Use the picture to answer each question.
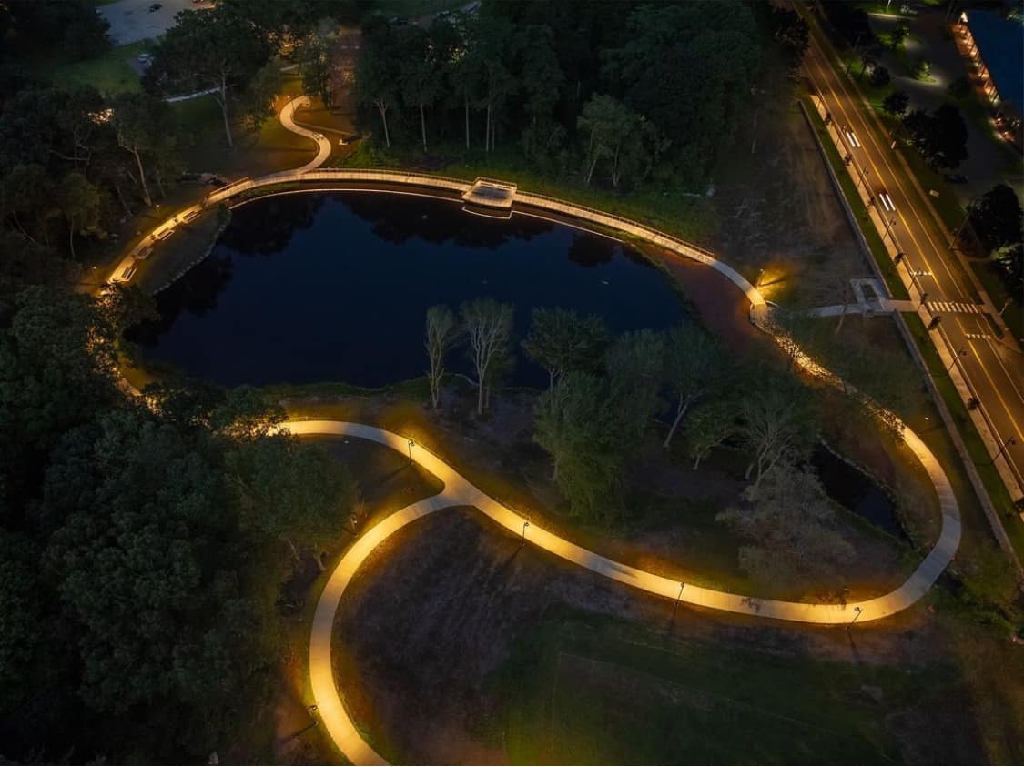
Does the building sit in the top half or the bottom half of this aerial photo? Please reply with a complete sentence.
The top half of the photo is where the building is.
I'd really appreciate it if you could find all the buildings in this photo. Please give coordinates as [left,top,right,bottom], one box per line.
[960,10,1024,122]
